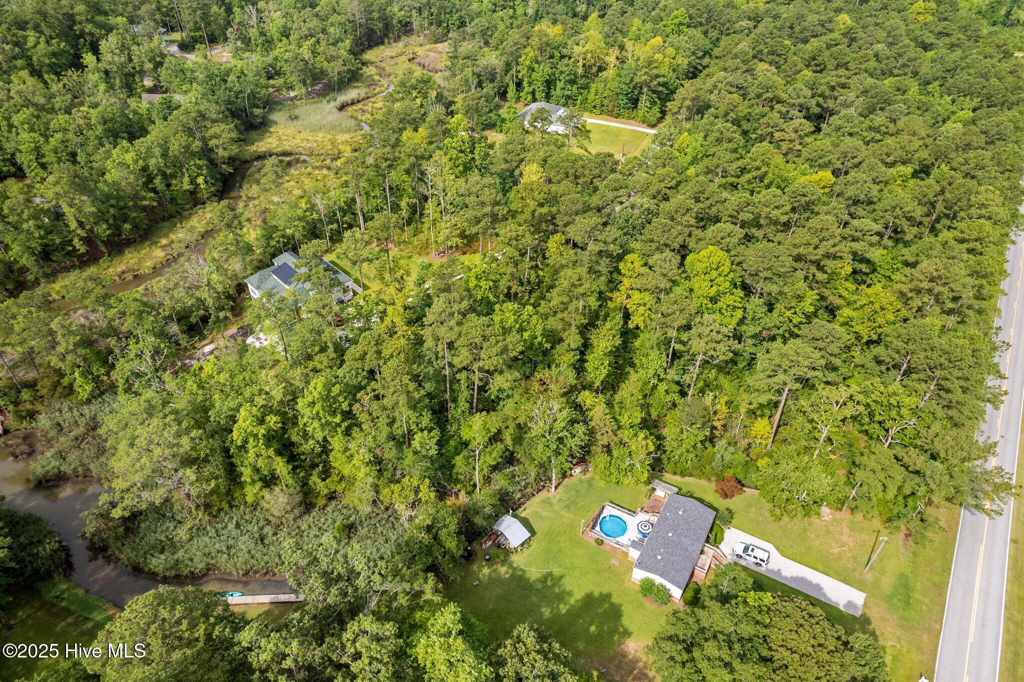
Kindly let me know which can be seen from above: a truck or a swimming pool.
swimming pool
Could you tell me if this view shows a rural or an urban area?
rural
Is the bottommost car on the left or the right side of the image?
right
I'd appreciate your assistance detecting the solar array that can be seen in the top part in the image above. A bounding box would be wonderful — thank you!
[264,259,304,281]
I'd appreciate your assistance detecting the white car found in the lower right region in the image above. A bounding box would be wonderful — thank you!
[732,543,770,567]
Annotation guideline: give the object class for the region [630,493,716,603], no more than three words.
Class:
house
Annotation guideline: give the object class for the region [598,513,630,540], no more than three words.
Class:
swimming pool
